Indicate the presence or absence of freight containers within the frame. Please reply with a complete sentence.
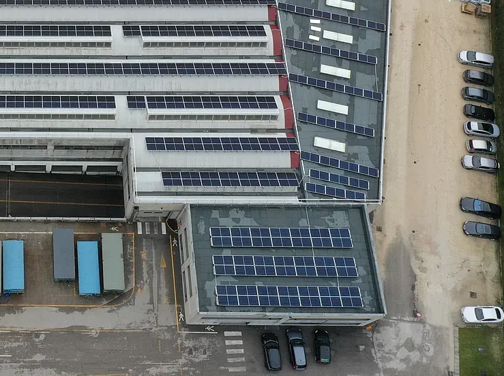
Yes, the image includes a freight container.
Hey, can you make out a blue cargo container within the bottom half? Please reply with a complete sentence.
Yes, you'll find a blue cargo container within the bottom half.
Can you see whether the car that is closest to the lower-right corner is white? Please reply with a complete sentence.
Yes, the car that is closest to the lower-right corner is white.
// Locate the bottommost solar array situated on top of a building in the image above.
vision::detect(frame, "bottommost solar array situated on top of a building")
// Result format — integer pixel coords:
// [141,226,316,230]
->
[216,285,363,306]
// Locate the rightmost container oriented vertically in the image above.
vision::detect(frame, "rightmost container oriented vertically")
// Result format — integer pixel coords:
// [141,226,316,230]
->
[99,233,125,296]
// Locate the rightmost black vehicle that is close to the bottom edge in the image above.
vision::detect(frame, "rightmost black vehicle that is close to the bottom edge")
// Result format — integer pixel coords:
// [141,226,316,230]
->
[312,328,335,365]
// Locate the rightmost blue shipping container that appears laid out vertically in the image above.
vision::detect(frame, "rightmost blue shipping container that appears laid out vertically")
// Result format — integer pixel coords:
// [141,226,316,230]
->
[74,241,100,300]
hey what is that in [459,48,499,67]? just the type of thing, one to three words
car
